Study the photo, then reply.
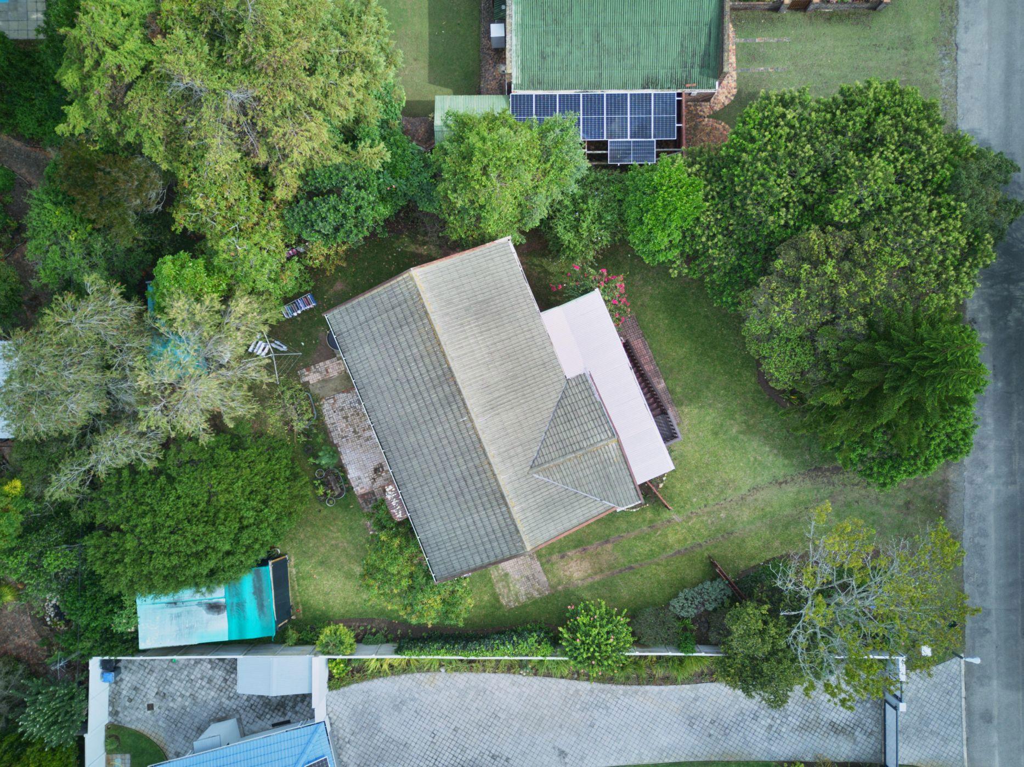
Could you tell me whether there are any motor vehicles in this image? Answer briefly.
No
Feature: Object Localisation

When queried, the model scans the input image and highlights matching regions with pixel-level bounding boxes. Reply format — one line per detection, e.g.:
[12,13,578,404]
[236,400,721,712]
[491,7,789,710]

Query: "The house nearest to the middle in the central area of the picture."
[321,236,676,584]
